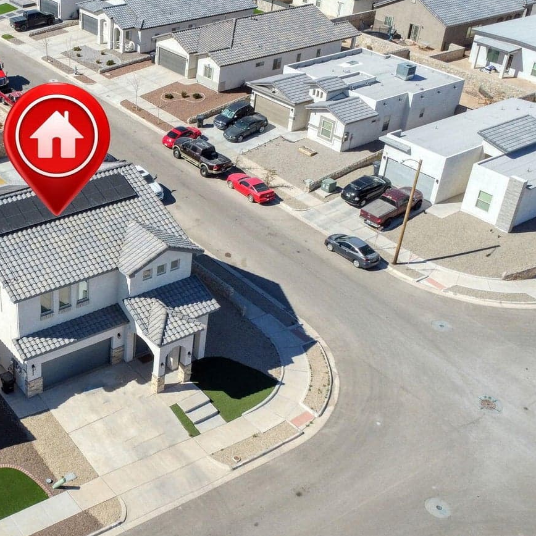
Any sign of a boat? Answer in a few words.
No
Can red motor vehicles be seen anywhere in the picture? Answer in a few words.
Yes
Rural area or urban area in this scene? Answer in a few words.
urban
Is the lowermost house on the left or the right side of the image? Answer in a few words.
left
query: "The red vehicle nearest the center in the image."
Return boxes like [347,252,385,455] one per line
[226,174,281,205]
